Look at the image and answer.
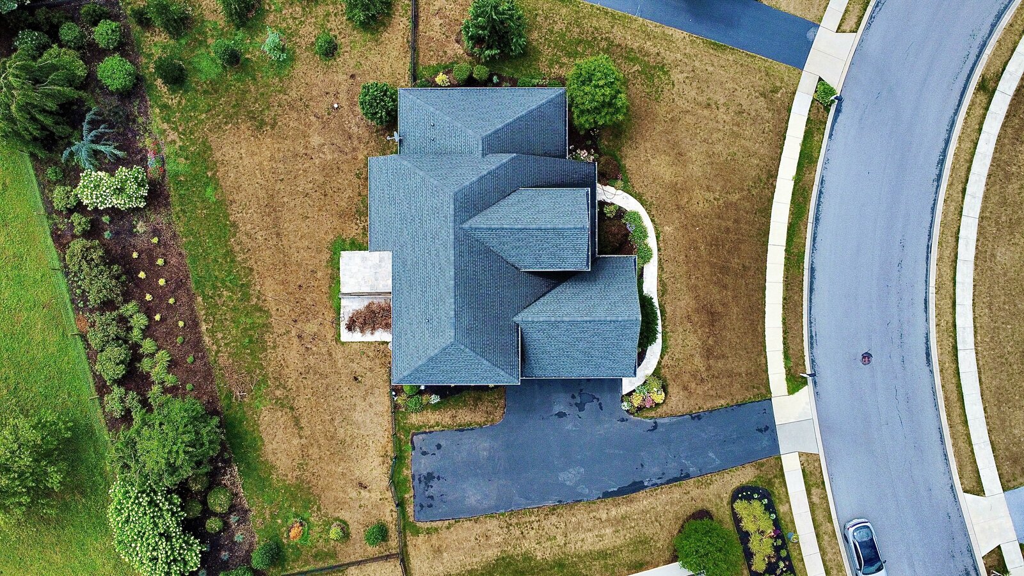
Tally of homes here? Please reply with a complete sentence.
The count comes to 1 home.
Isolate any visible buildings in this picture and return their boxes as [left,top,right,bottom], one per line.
[366,85,642,386]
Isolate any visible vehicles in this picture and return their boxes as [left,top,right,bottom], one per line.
[846,519,893,576]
